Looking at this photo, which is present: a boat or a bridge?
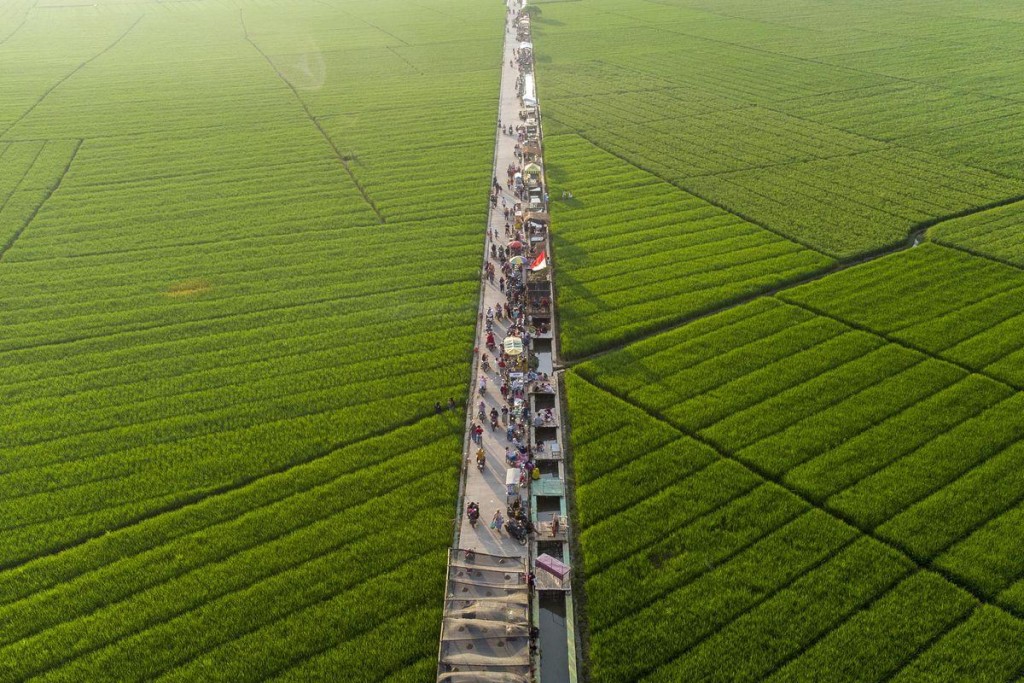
bridge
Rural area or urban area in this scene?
rural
